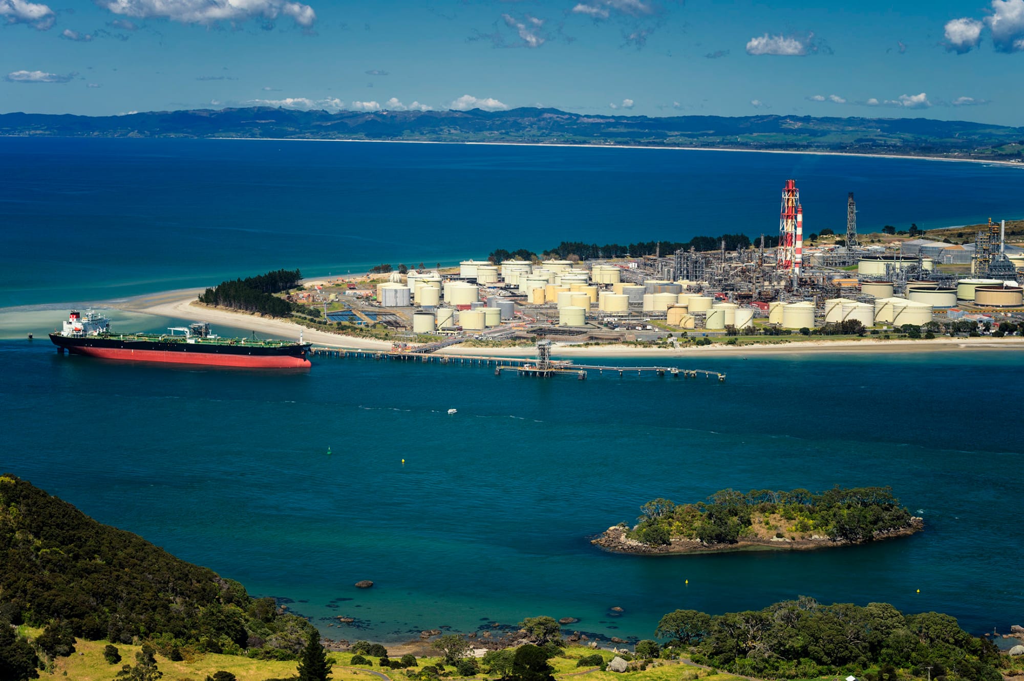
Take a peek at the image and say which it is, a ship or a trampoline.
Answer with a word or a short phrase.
ship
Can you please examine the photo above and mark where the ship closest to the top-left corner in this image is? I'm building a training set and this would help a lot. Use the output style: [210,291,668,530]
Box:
[45,305,312,368]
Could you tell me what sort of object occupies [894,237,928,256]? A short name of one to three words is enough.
building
